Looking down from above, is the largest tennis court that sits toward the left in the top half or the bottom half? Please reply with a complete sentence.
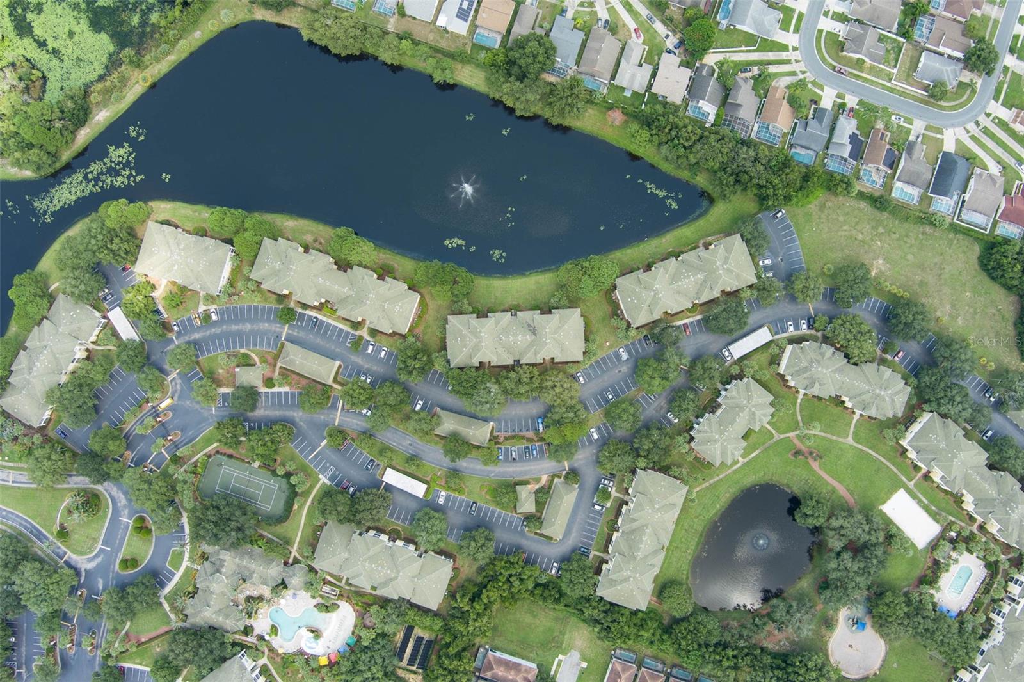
It is in the bottom half that the largest tennis court that sits toward the left appears.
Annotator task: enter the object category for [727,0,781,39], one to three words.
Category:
house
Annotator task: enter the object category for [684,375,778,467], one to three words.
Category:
building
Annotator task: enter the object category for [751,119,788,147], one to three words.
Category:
swimming pool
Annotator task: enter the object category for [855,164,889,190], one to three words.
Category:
swimming pool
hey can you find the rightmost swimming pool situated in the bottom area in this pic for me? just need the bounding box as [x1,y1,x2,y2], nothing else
[938,552,990,613]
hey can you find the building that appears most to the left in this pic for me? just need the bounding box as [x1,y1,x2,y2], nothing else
[0,292,113,426]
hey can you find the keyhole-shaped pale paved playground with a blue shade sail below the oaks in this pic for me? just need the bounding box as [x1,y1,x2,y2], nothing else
[828,605,888,679]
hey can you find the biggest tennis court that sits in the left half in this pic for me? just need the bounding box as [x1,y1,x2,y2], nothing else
[197,454,289,523]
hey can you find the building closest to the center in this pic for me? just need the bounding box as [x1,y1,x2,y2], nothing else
[447,305,586,367]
